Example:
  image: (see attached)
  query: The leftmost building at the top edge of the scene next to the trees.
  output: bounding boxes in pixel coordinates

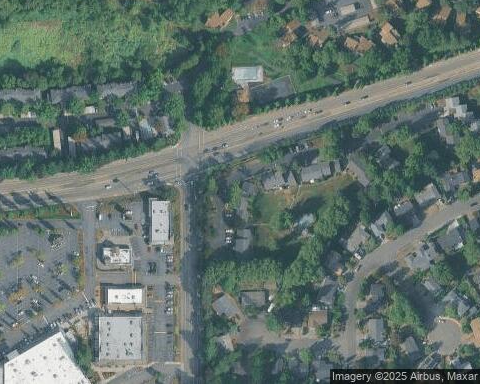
[203,4,236,27]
